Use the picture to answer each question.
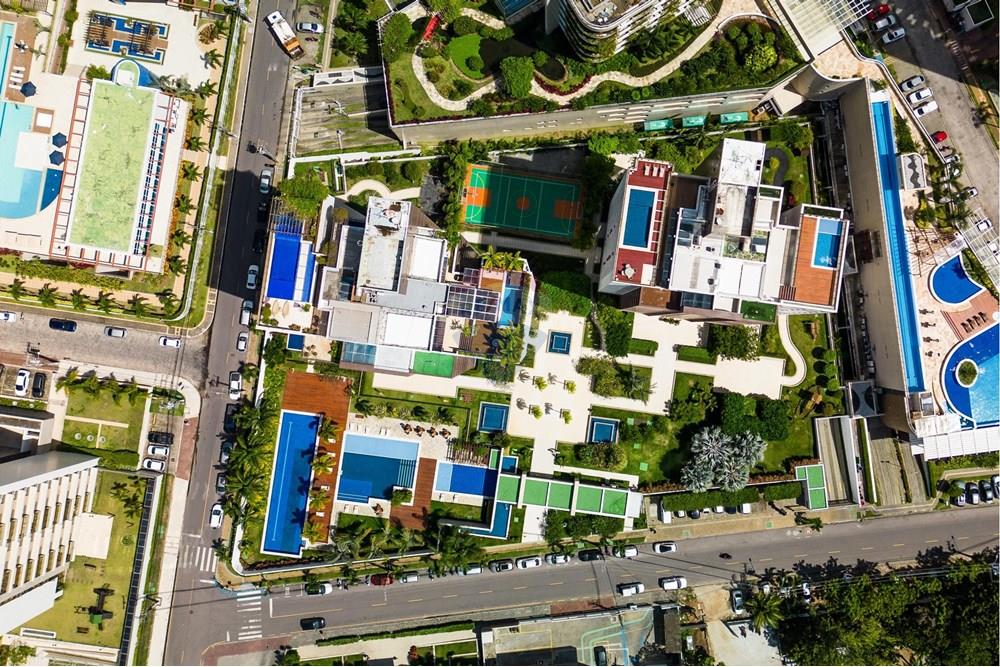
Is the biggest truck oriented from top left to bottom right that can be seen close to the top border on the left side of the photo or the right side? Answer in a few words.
left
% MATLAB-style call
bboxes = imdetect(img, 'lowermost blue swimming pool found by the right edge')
[941,322,1000,429]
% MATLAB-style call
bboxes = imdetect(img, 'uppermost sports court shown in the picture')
[455,153,591,242]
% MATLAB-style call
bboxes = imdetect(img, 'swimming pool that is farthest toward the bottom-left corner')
[261,408,321,558]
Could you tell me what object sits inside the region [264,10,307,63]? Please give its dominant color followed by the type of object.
white truck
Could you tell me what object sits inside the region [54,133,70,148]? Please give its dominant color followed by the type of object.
blue umbrella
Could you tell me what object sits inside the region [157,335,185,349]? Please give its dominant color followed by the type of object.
white vehicle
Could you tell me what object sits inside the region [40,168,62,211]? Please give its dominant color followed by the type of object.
blue swimming pool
